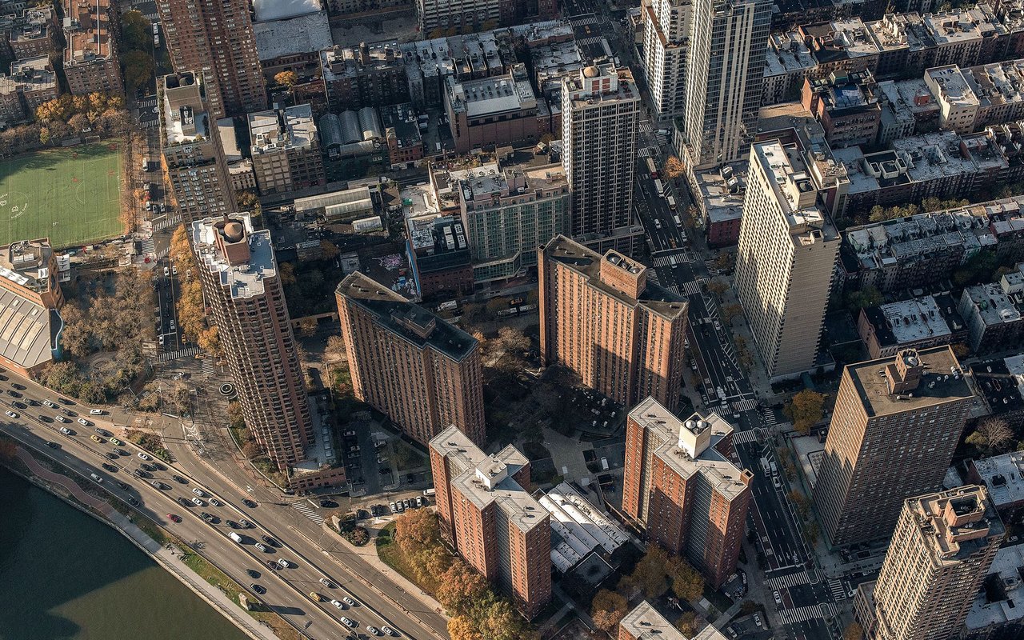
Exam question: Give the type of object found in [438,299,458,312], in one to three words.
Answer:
vehicle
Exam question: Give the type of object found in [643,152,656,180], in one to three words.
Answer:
vehicle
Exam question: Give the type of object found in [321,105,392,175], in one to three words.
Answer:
building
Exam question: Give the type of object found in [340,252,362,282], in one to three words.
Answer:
shed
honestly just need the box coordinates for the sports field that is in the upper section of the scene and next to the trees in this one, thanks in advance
[0,142,123,246]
